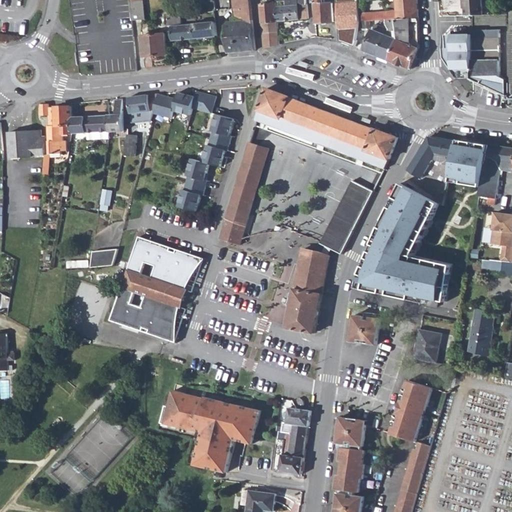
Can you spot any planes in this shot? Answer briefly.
No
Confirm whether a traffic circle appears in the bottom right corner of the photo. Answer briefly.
No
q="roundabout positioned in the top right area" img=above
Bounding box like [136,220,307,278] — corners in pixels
[396,71,455,130]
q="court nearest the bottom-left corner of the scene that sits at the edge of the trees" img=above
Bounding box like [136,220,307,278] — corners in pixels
[45,413,135,500]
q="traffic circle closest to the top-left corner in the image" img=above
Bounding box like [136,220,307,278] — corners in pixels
[2,49,50,97]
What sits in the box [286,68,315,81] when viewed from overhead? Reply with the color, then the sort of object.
white vehicle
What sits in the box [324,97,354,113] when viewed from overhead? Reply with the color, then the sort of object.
white vehicle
